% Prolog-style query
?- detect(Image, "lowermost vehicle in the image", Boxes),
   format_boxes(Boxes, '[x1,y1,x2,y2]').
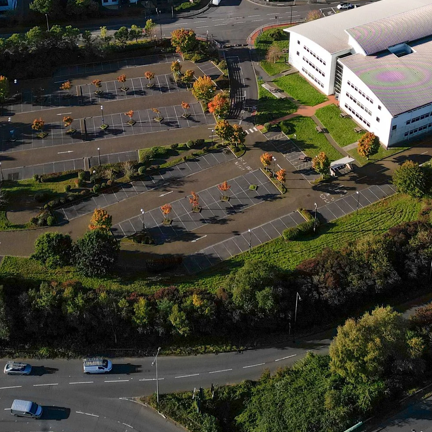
[9,400,44,421]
